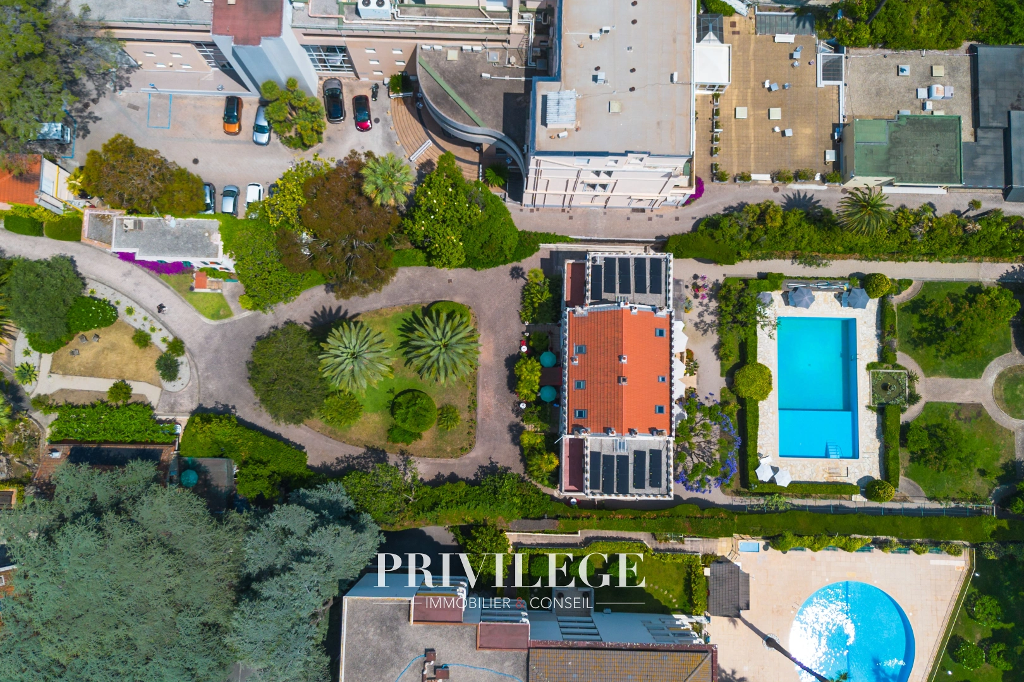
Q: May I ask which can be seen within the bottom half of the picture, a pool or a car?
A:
pool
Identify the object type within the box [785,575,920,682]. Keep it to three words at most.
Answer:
swimming pool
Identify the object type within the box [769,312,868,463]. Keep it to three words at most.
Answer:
swimming pool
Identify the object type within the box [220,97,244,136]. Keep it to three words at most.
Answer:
car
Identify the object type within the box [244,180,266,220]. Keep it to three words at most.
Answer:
car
